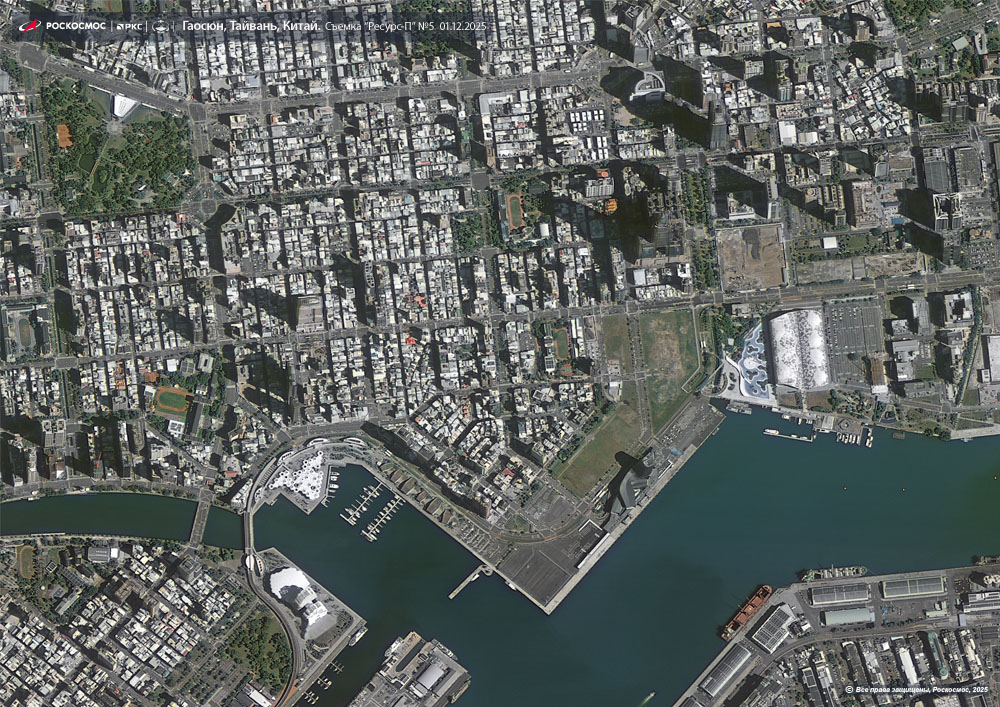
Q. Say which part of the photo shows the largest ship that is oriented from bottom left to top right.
bottom right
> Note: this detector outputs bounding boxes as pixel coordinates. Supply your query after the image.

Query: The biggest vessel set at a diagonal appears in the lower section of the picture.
[721,587,771,639]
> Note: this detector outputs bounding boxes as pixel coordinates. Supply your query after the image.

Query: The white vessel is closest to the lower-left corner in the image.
[351,626,368,645]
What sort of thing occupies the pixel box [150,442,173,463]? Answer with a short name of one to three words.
building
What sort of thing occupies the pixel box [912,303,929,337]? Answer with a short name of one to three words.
building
